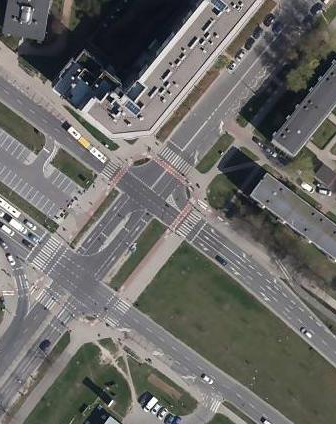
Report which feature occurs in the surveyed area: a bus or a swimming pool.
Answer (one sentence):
I can see a bus in this picture.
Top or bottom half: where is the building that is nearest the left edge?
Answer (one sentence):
The building that is nearest the left edge sits in the top half of the picture.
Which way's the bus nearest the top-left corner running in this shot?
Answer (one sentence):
In this picture, the bus nearest the top-left corner lies on a diagonal.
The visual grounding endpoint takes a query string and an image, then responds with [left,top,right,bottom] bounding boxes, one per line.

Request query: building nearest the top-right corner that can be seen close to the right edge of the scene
[272,63,336,157]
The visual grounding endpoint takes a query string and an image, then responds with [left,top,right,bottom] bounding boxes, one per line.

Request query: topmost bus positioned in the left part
[67,125,108,164]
